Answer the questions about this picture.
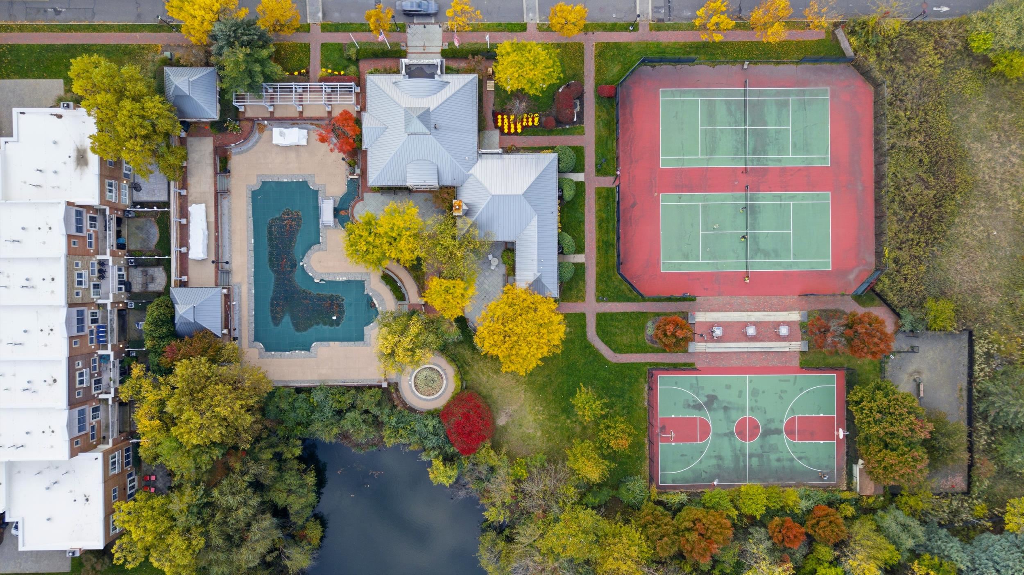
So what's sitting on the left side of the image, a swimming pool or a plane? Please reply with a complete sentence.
You can see a swimming pool on the left side of the image.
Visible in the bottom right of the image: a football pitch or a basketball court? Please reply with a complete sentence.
Looking in the bottom right of the image, you will find a basketball court.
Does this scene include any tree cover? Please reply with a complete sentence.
Yes, there's tree cover in this view.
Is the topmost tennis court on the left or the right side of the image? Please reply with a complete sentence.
The topmost tennis court sits on the right side.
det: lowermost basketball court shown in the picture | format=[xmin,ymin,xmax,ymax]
[658,374,836,485]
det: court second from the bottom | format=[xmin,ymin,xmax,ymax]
[660,192,831,272]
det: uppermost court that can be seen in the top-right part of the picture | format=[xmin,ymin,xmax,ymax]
[660,87,830,167]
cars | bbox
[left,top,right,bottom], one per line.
[13,522,18,535]
[0,511,5,533]
[399,0,435,15]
